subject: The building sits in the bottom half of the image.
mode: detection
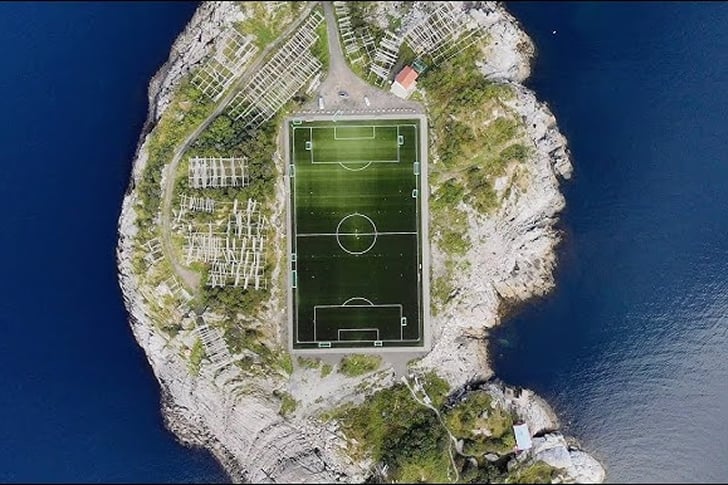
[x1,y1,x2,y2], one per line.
[513,421,531,450]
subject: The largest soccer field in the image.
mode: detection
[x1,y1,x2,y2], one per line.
[284,114,431,353]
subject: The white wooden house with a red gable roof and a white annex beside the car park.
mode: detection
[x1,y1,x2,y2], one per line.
[390,64,419,97]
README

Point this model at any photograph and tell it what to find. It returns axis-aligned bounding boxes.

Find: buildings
[513,421,531,450]
[390,64,419,97]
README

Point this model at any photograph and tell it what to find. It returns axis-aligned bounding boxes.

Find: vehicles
[363,96,370,106]
[338,91,348,97]
[318,96,324,109]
